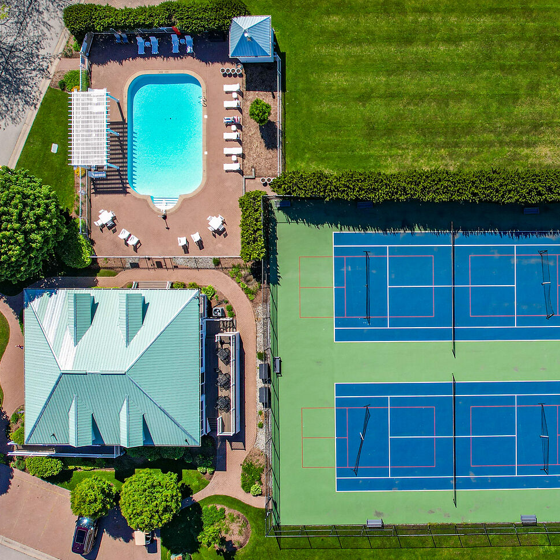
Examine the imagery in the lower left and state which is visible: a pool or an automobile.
automobile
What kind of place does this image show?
sports ground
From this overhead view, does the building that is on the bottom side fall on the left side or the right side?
left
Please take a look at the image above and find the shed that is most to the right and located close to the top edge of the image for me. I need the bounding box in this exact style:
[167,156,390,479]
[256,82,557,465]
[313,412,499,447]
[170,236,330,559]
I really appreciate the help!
[229,15,273,62]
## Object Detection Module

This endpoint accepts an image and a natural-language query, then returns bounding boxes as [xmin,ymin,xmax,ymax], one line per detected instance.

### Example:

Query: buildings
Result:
[229,15,273,62]
[21,286,214,450]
